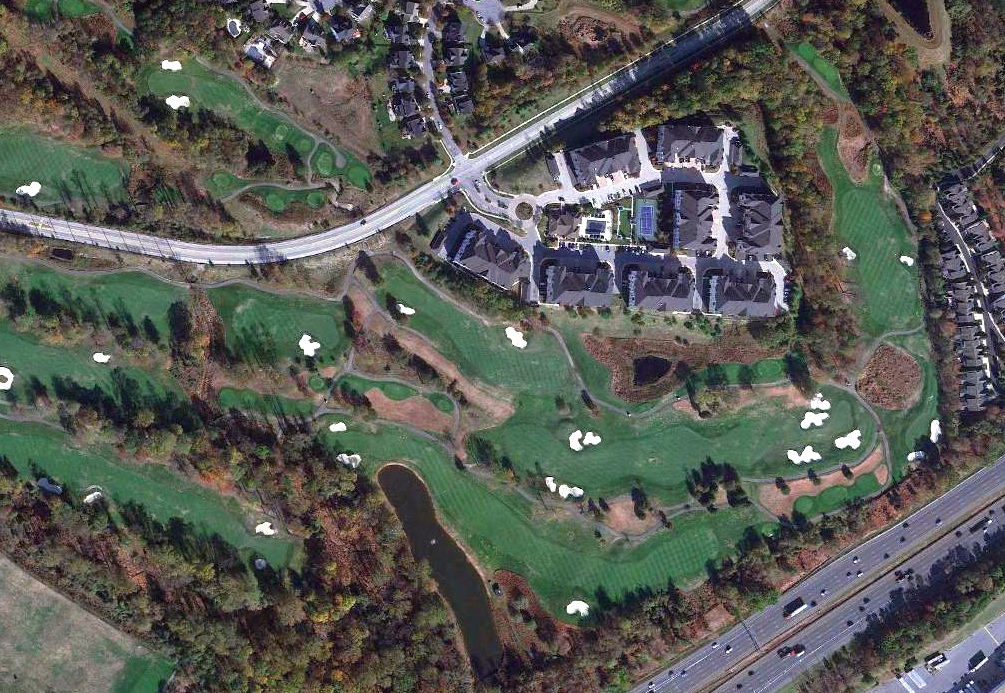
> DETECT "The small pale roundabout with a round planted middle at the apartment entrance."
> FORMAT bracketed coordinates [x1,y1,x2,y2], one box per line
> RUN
[507,193,542,229]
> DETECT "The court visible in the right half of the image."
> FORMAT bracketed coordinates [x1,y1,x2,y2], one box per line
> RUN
[635,198,658,240]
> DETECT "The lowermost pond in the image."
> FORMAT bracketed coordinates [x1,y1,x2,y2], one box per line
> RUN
[376,463,503,687]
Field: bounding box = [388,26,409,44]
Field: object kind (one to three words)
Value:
house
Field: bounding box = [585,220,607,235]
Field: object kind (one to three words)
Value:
swimming pool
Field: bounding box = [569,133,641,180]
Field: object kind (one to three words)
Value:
building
